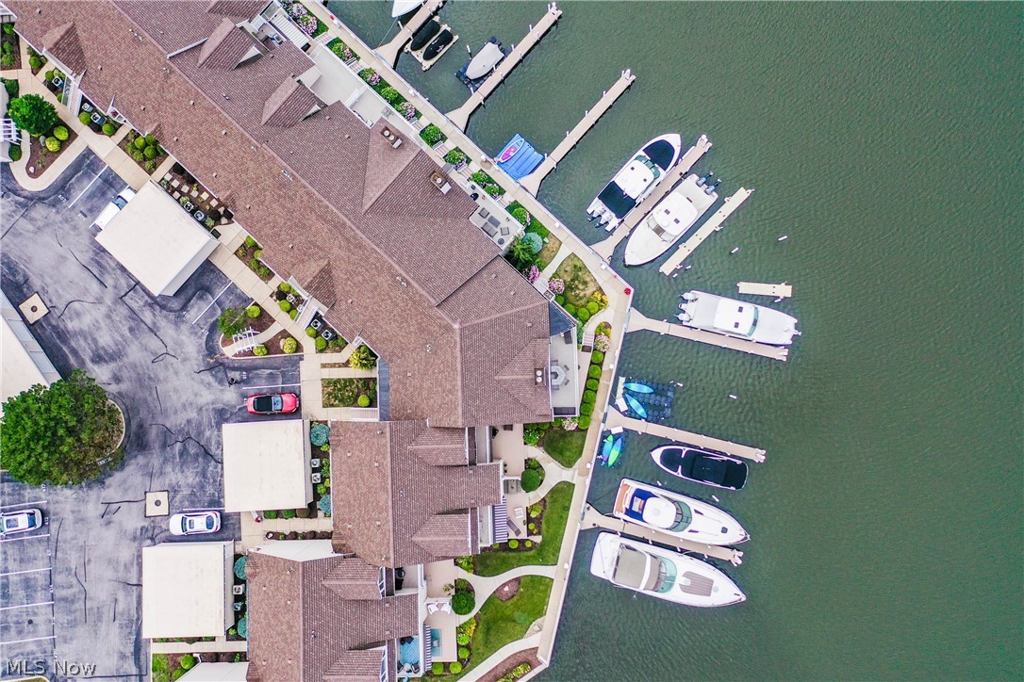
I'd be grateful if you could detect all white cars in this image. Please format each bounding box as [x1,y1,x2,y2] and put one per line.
[170,510,223,537]
[93,183,142,231]
[0,507,49,538]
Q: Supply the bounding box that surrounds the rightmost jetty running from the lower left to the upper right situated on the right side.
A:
[658,187,753,276]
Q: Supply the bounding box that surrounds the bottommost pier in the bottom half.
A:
[580,502,739,563]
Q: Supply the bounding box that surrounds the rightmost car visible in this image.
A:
[247,391,300,417]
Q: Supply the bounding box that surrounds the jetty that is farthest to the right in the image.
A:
[735,281,792,299]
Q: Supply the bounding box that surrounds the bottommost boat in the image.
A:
[587,533,748,606]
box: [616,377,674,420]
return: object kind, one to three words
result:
pier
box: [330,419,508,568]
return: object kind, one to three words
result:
house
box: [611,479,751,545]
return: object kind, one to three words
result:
boat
